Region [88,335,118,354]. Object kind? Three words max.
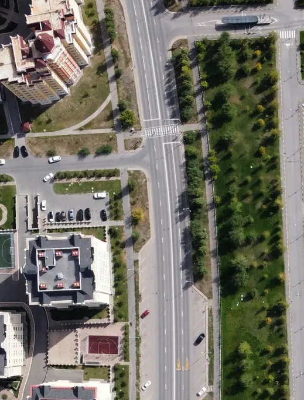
basketball court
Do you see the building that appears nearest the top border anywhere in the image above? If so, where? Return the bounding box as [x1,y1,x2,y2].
[24,0,90,52]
